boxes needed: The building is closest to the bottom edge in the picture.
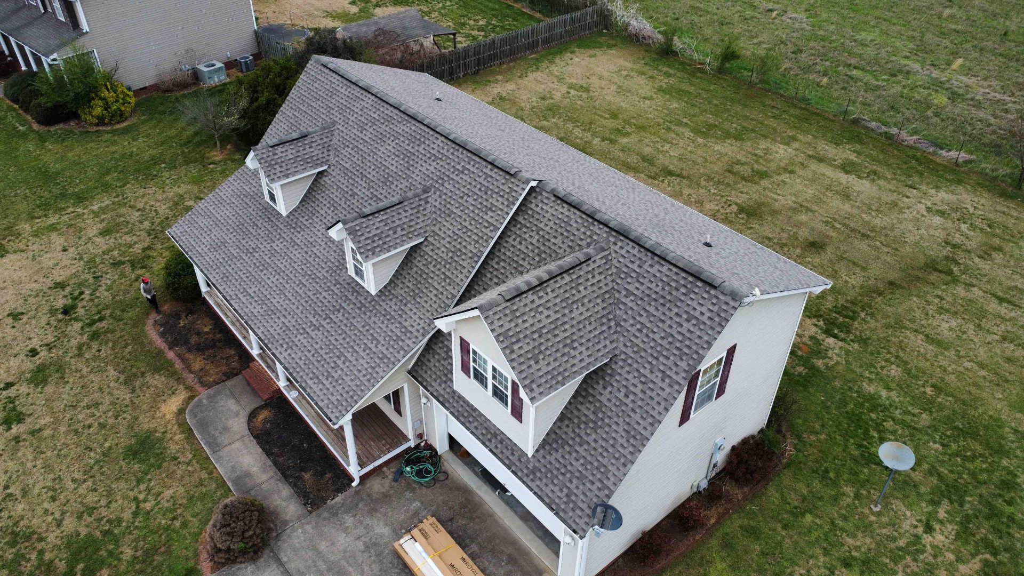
[165,53,833,576]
